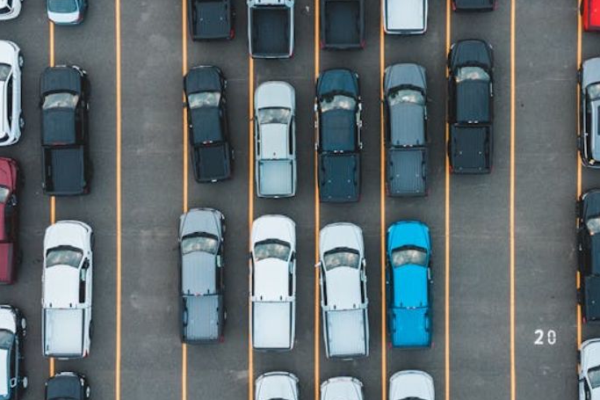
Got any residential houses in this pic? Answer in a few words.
No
